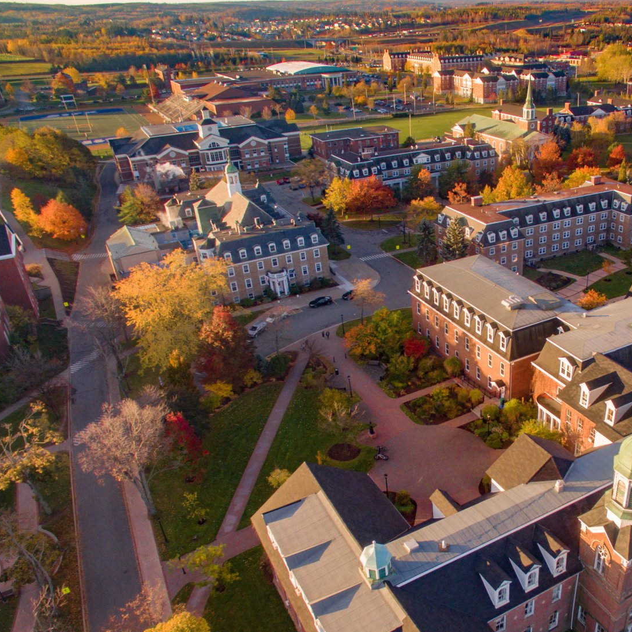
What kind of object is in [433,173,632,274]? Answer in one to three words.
house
